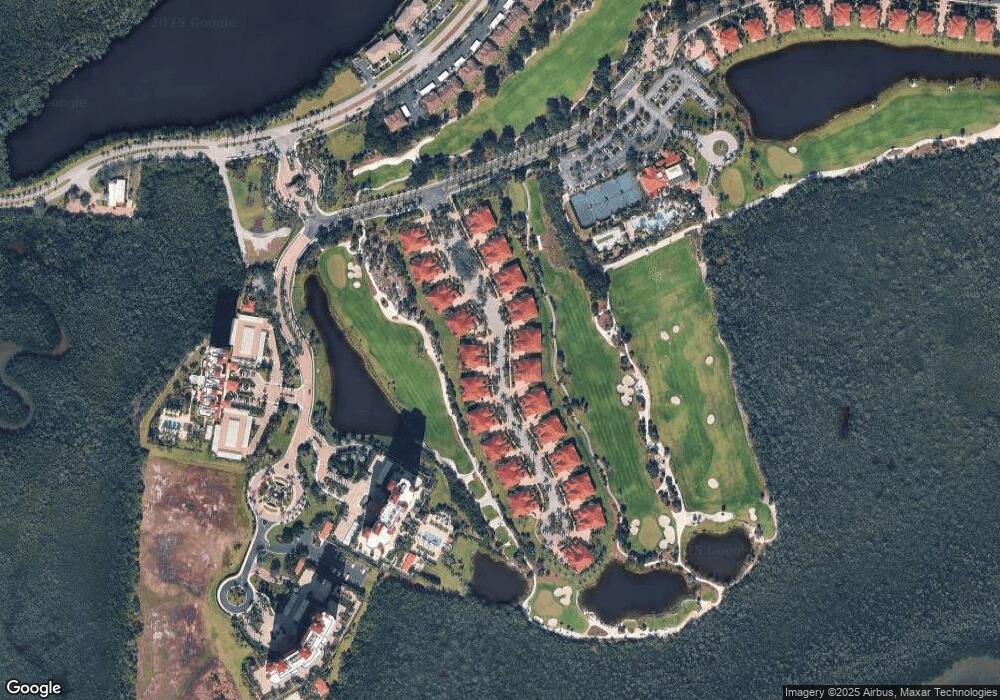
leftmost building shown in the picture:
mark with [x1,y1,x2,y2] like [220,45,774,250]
[109,179,126,203]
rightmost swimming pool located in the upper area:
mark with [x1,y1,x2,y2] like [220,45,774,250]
[694,57,711,73]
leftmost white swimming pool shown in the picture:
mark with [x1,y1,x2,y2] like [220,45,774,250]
[159,408,191,439]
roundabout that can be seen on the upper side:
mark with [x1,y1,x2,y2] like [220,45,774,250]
[701,131,737,167]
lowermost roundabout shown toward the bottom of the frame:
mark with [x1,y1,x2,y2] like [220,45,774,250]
[219,576,256,614]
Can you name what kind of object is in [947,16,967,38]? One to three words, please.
house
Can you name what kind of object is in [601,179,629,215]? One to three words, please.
tennis court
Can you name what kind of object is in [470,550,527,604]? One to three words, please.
pond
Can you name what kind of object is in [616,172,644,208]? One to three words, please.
tennis court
